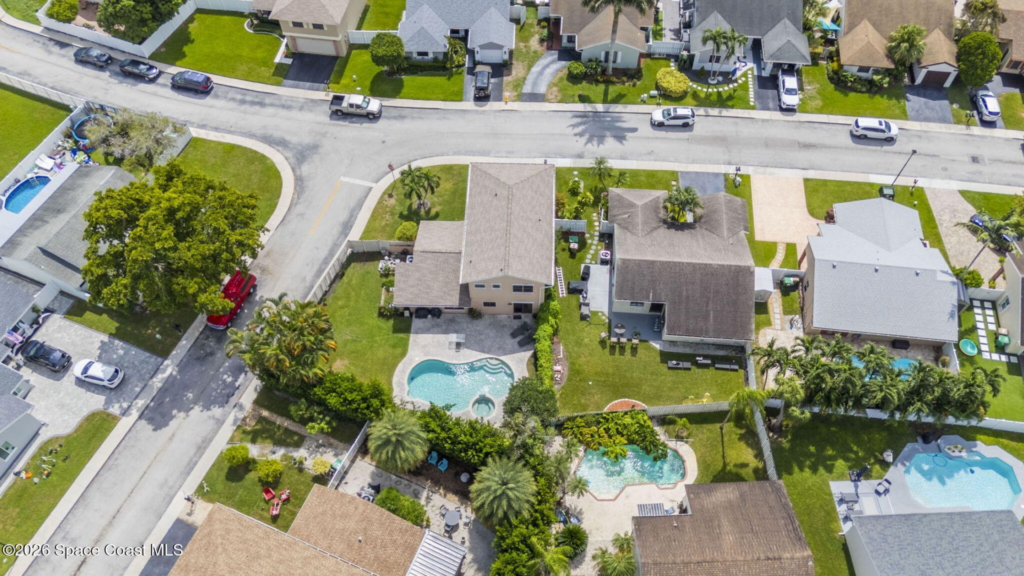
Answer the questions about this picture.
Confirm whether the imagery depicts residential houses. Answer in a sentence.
Yes, there's a residential house down there.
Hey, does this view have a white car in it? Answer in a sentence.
Yes, there's a white car down there.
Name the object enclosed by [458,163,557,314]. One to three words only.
house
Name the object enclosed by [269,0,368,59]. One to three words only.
house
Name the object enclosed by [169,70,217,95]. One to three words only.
car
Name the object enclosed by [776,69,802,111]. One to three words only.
truck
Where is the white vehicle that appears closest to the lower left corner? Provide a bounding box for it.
[70,356,130,393]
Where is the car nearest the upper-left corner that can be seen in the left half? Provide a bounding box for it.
[71,46,117,69]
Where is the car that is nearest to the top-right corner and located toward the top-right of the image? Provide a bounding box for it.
[969,92,1002,123]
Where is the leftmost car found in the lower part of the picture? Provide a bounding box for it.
[18,337,77,377]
